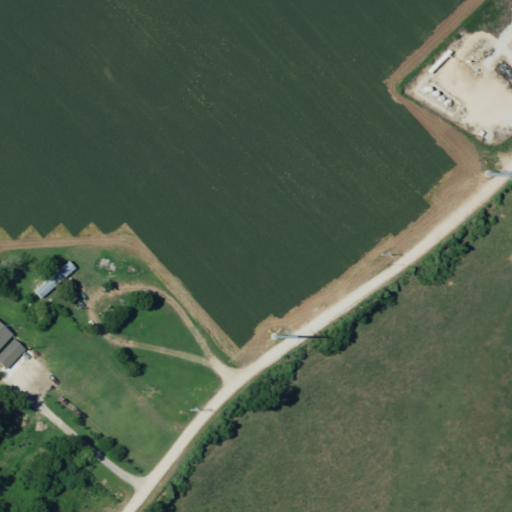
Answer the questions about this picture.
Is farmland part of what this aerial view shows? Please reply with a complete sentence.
Yes, farmland shows up in the scene.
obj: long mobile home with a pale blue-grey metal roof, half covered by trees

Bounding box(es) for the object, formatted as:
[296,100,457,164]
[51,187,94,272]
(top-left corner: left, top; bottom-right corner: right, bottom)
[34,260,76,298]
